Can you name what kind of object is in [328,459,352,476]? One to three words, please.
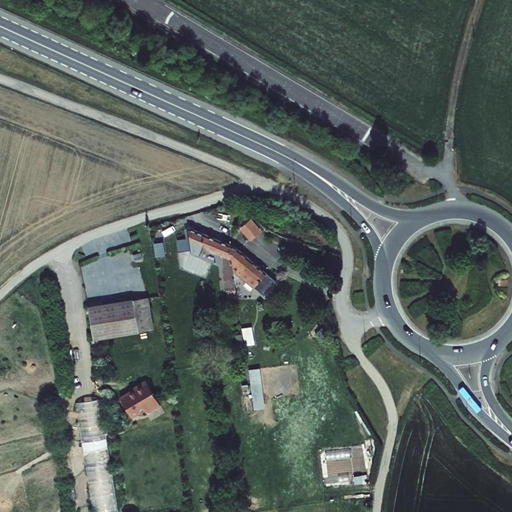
building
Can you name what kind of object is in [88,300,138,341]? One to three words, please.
barn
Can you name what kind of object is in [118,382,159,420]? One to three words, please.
house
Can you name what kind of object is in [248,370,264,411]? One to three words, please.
shed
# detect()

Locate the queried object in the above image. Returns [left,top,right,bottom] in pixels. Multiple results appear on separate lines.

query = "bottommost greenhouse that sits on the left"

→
[76,402,118,512]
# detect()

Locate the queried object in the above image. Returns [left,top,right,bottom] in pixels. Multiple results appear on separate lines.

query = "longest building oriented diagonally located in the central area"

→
[186,229,264,288]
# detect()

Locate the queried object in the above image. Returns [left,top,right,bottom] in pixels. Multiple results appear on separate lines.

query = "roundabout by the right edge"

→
[373,199,512,365]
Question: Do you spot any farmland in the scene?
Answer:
Yes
